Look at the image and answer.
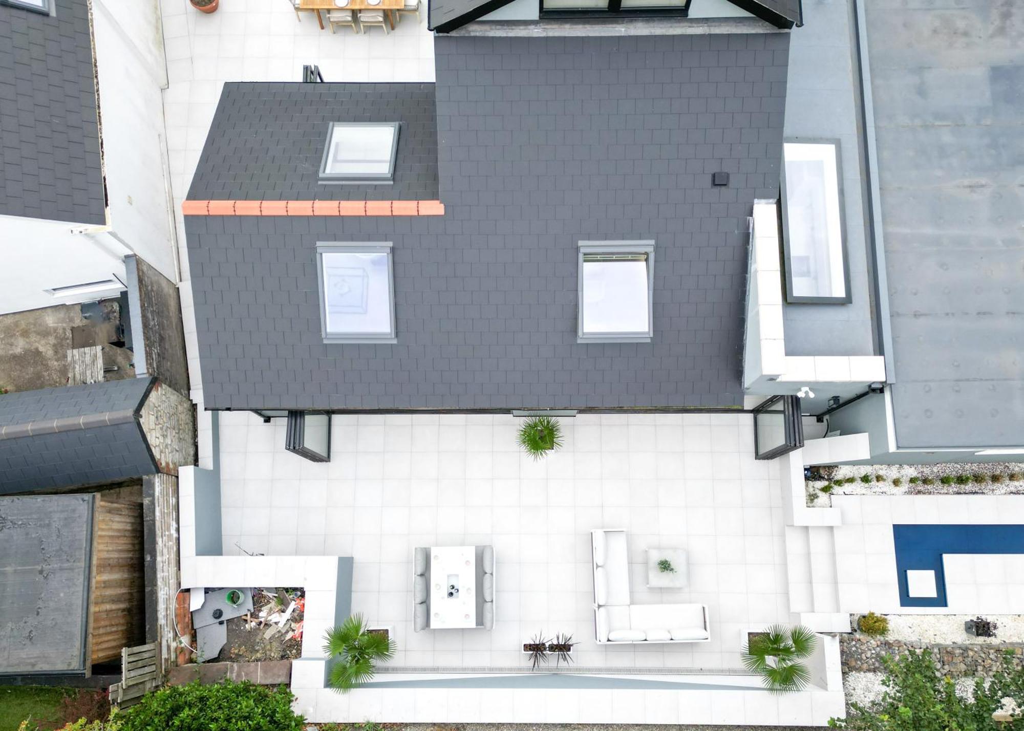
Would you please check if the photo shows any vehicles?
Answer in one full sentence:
No, I can't see a single vehicle in this photo.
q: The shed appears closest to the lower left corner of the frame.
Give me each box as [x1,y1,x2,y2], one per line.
[0,493,149,677]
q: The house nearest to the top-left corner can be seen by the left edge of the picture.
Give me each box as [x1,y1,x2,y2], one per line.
[0,0,180,315]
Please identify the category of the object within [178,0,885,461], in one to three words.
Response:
house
